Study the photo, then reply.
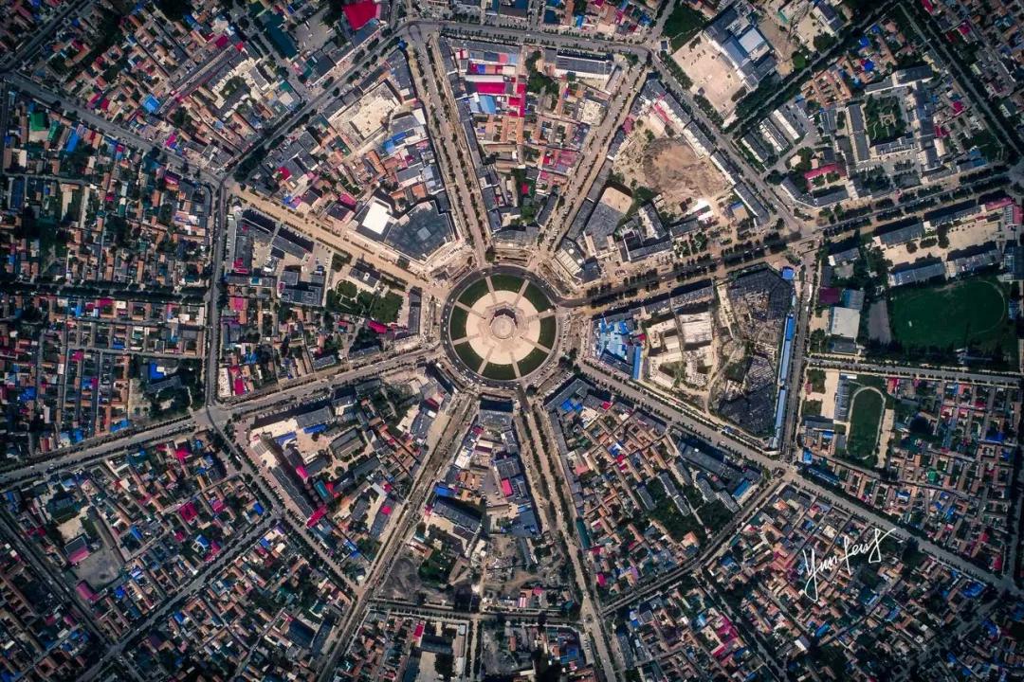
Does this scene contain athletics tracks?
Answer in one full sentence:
Yes, there is an athletics track in the image.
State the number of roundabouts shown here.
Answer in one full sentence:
Just 1 roundabout appears in this view.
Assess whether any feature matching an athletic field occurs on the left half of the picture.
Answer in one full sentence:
No, no athletic field appears on the left half of the picture.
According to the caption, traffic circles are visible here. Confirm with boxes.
[440,264,566,390]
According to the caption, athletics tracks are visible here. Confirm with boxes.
[839,374,888,468]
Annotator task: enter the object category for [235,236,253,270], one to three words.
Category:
building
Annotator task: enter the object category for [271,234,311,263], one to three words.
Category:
building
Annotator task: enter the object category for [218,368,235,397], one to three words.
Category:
shed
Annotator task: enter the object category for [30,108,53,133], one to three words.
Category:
shed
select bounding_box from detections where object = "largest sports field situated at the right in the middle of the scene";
[891,276,1012,355]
